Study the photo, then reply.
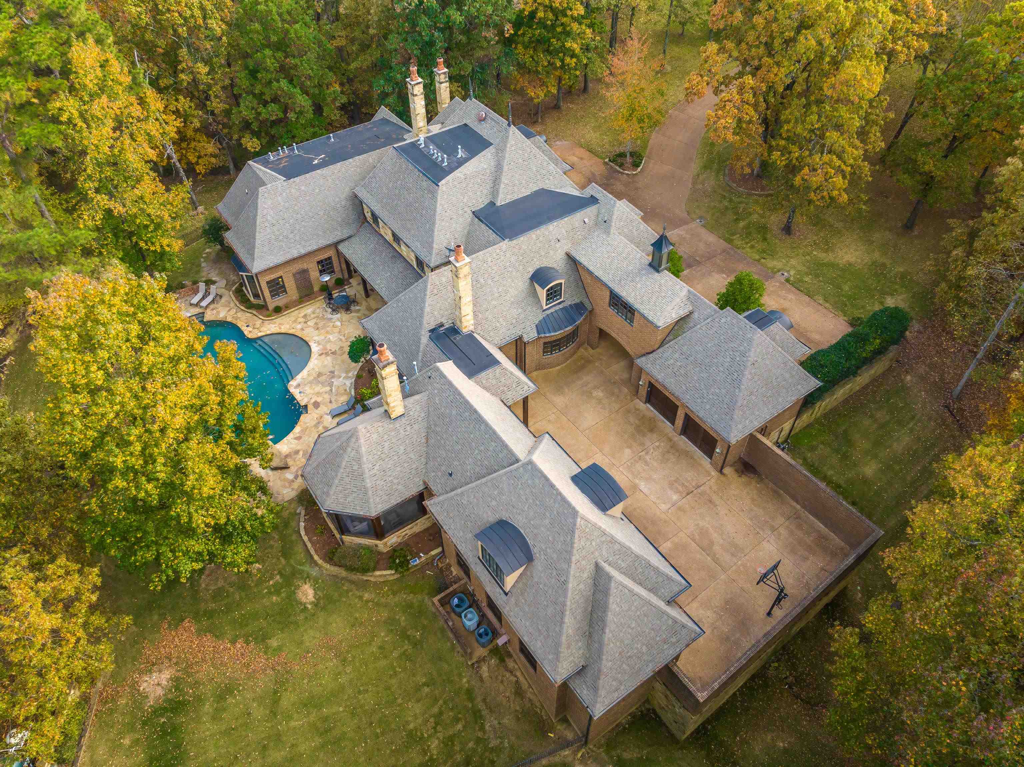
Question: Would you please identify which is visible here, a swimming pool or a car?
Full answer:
Looking from above, you can make out a swimming pool.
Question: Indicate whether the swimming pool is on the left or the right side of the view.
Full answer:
The swimming pool sits on the left side.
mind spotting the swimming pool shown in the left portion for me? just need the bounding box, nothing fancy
[187,313,310,443]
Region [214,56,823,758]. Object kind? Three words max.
house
